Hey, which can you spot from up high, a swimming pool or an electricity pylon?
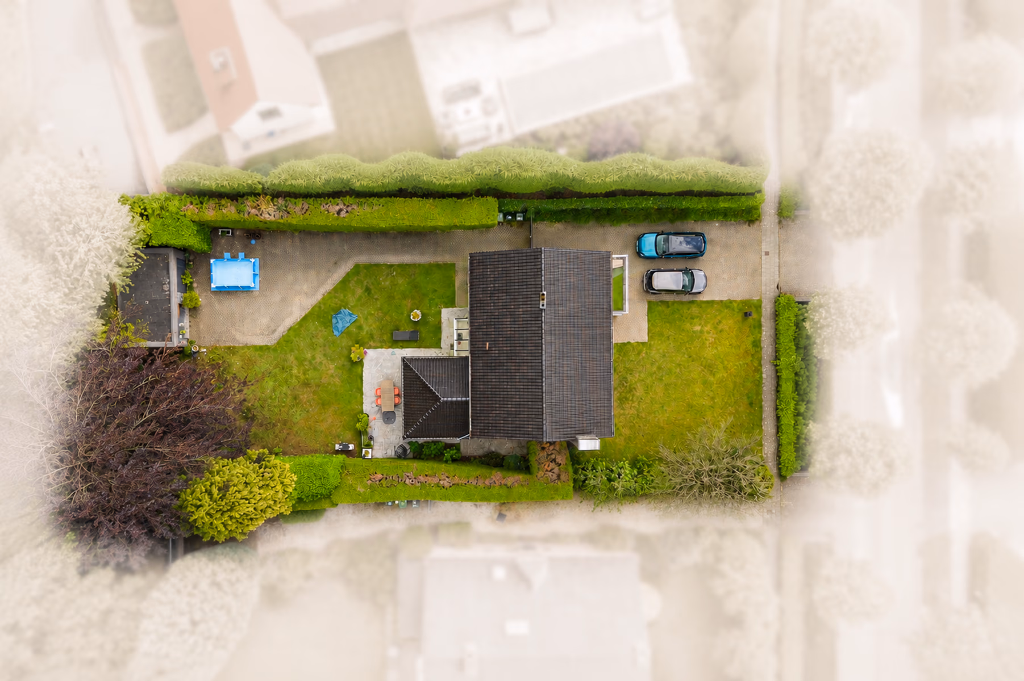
swimming pool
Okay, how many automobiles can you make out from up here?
2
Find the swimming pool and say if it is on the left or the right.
left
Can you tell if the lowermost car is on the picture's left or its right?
right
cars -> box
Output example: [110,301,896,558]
[643,265,707,297]
[636,227,707,261]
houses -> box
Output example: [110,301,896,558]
[410,0,693,153]
[186,0,338,131]
[400,247,627,449]
[399,537,670,681]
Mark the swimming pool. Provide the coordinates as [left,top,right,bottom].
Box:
[208,253,259,290]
